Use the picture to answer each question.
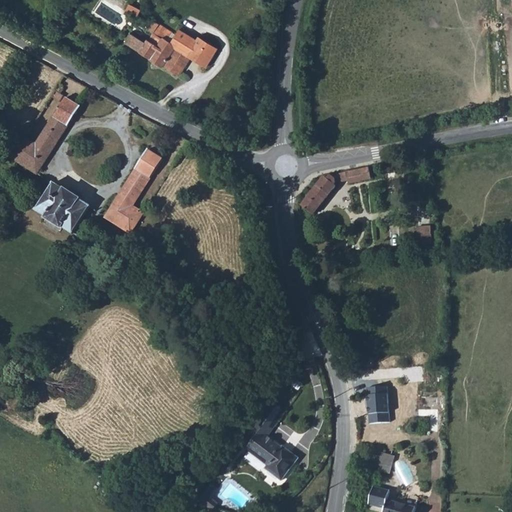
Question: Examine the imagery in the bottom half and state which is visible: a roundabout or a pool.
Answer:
pool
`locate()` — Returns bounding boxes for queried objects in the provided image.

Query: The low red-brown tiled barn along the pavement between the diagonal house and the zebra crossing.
[340,166,372,184]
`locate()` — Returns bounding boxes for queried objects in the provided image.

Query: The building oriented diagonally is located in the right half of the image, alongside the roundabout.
[300,173,336,214]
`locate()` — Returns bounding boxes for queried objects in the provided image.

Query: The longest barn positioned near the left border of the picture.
[14,90,79,174]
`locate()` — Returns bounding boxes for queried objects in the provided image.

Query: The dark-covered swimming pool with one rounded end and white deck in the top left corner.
[92,0,126,30]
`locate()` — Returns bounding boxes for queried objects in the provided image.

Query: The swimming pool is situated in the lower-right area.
[392,457,418,488]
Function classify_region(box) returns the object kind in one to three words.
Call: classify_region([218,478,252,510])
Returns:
swimming pool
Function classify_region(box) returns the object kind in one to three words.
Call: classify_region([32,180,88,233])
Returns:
house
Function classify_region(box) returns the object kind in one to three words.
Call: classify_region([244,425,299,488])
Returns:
house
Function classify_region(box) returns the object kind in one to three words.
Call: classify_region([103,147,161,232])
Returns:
shed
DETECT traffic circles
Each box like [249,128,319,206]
[262,136,313,208]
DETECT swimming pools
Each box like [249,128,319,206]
[392,457,418,488]
[92,0,126,30]
[218,478,252,510]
